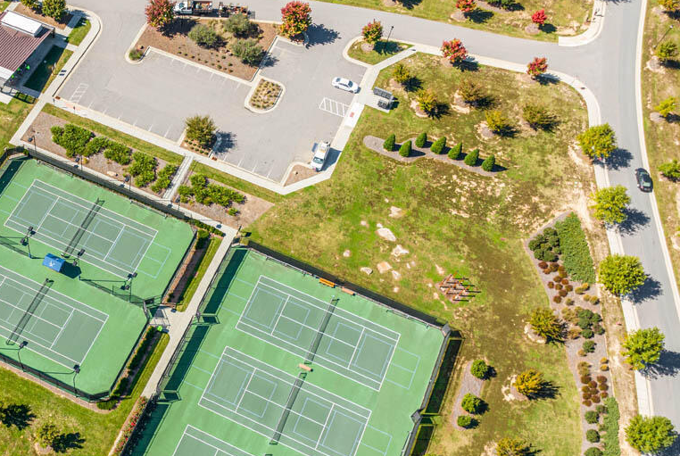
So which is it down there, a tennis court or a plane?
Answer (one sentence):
Visible in the photo is a tennis court.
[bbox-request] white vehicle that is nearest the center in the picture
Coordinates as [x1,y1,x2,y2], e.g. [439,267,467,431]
[313,137,333,171]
